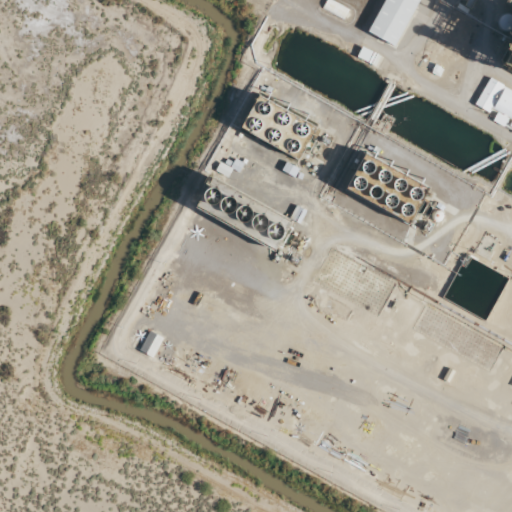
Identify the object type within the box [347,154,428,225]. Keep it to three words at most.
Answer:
cooling tower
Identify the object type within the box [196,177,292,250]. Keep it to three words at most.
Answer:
cooling tower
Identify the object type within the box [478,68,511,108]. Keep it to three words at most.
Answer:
building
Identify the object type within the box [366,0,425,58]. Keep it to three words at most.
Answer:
building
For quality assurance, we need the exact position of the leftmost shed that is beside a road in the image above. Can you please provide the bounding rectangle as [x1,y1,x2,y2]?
[139,330,164,358]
